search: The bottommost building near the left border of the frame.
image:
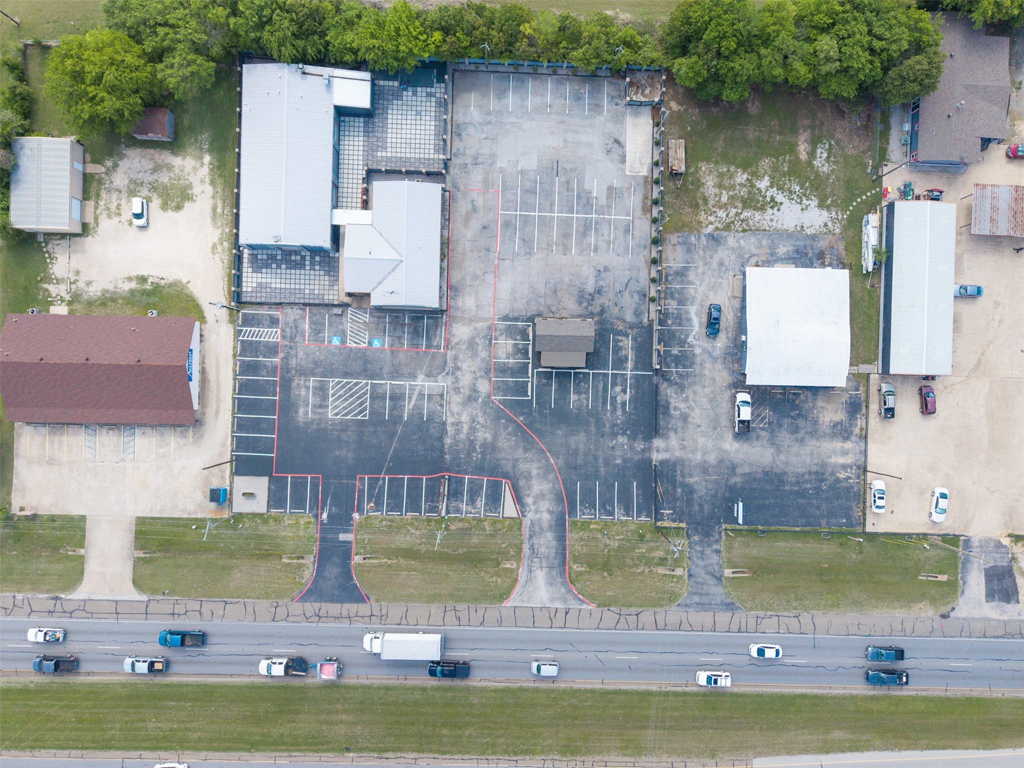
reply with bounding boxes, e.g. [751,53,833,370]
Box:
[0,314,200,424]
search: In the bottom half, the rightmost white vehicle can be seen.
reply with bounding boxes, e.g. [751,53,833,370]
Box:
[929,488,948,522]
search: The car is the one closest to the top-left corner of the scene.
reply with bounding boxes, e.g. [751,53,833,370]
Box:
[132,198,149,227]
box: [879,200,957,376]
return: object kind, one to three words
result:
building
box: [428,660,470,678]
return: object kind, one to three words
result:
vehicle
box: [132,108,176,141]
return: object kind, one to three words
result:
shed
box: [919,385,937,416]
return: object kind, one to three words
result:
car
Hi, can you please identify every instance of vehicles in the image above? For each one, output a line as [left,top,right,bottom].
[749,643,783,660]
[259,657,304,676]
[428,660,470,678]
[706,303,722,337]
[363,636,443,662]
[26,627,67,645]
[123,657,169,675]
[696,670,732,688]
[870,480,887,514]
[929,488,948,522]
[32,656,79,674]
[531,661,559,677]
[132,198,149,227]
[157,629,206,648]
[865,668,909,686]
[153,760,188,768]
[865,645,905,662]
[735,392,753,434]
[878,382,896,420]
[1006,143,1024,160]
[954,283,985,299]
[919,385,937,416]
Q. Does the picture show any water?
No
